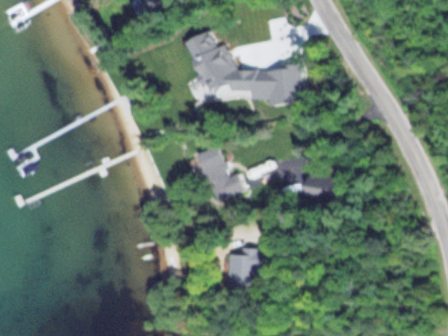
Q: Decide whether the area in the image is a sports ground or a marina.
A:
marina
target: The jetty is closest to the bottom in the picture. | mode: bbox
[14,146,140,208]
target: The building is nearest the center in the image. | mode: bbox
[196,148,245,198]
